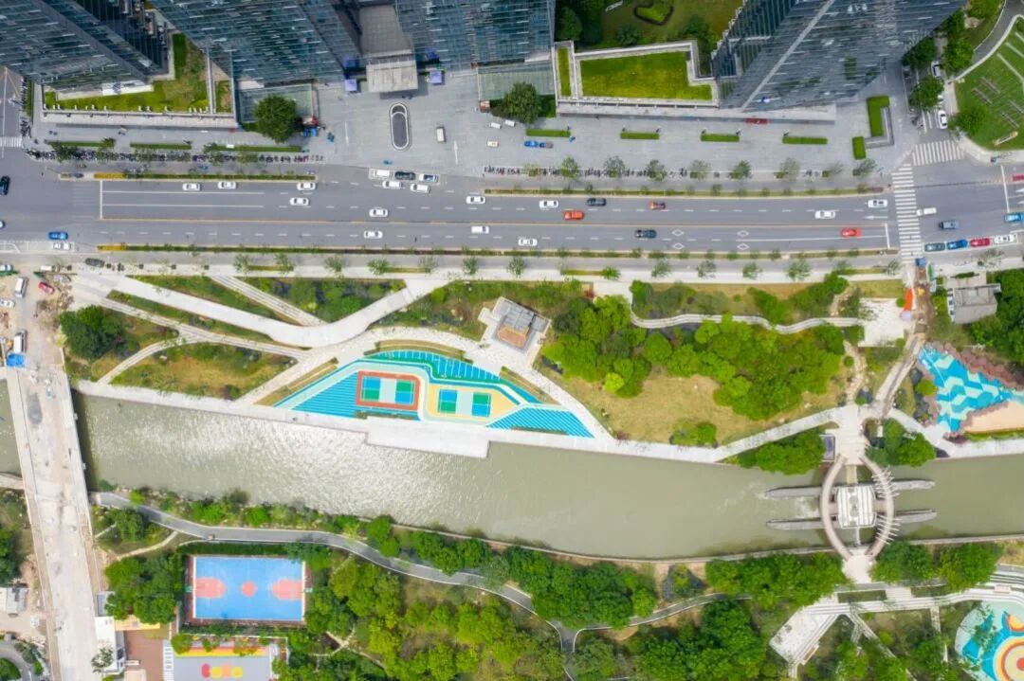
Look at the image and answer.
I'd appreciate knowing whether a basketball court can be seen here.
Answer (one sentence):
Yes, there's a basketball court here.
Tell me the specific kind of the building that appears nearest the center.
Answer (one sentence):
Specifically, the building that appears nearest the center is a house.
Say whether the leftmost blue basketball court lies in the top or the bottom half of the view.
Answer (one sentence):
It is in the bottom half that the leftmost blue basketball court appears.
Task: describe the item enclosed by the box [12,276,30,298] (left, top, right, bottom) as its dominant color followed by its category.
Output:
white vehicle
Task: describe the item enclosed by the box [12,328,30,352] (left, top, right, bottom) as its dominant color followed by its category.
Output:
white vehicle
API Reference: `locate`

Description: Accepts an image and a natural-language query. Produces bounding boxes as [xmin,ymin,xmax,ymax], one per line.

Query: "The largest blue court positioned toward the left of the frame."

[185,554,306,625]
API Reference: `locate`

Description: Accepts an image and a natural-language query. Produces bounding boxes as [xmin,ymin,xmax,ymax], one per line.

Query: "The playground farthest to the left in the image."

[174,643,270,681]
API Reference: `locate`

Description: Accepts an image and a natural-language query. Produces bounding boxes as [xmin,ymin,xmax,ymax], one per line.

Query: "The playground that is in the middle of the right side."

[919,347,1024,433]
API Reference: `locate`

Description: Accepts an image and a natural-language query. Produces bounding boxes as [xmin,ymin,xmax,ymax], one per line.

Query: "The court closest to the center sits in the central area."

[438,389,491,417]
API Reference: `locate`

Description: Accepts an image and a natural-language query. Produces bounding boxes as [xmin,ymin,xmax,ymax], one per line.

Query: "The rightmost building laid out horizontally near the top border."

[710,0,976,109]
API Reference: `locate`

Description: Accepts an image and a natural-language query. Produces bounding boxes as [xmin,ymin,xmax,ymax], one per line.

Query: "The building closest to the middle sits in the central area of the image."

[491,299,550,354]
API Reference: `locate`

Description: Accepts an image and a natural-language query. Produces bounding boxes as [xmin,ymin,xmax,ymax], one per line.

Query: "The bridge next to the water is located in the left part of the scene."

[2,359,114,681]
